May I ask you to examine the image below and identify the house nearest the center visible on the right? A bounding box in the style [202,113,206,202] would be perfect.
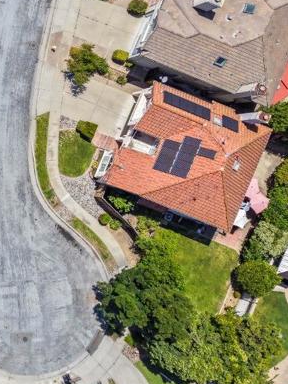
[88,82,272,233]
